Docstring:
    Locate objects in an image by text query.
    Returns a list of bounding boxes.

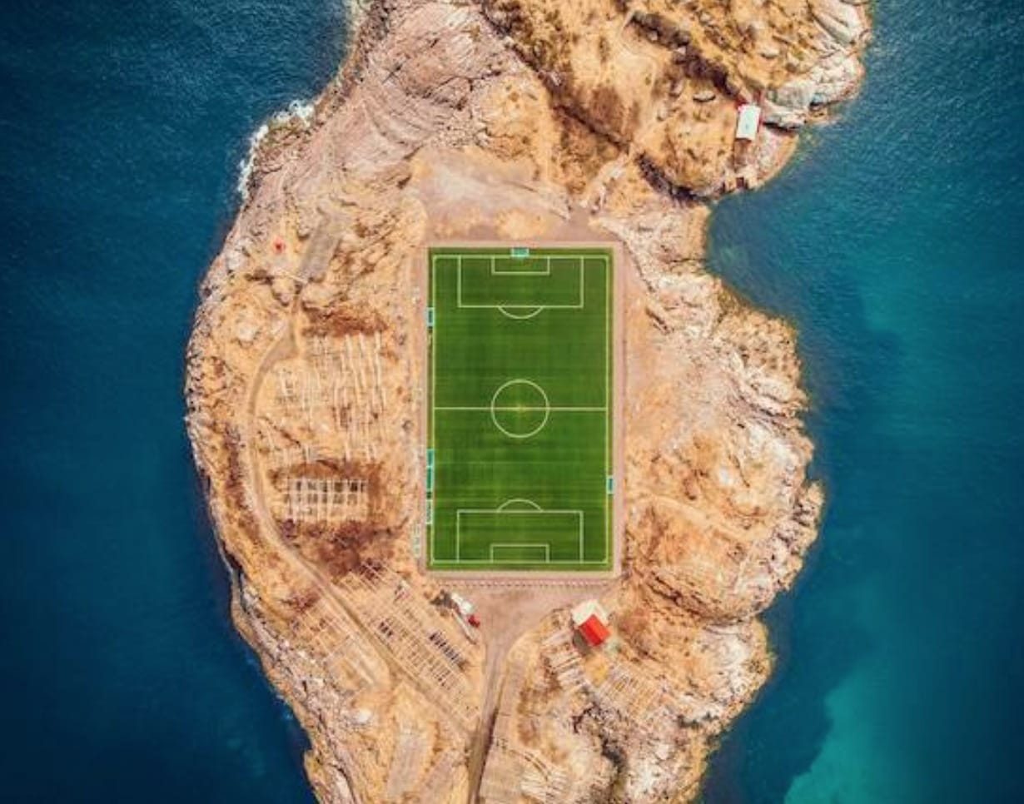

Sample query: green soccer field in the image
[419,239,621,579]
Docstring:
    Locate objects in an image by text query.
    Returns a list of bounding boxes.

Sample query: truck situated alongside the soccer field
[452,593,480,625]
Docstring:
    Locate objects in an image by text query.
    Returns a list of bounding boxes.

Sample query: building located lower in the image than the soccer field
[567,596,610,644]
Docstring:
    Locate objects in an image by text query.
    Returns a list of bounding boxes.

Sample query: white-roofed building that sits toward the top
[734,102,759,144]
